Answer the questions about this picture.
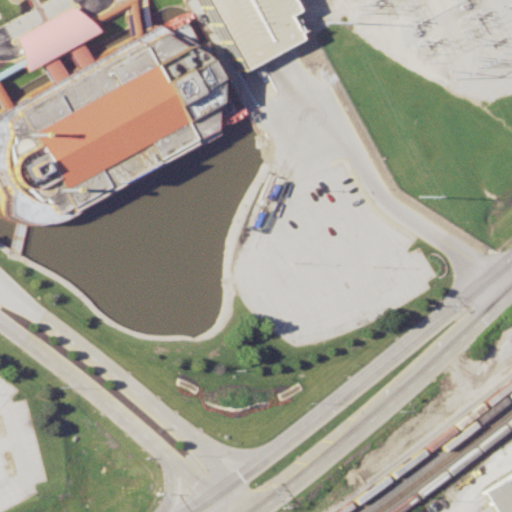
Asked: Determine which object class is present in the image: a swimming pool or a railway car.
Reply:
railway car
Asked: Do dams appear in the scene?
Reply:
No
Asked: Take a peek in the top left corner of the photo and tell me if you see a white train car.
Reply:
No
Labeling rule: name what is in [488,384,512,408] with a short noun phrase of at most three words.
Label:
rail car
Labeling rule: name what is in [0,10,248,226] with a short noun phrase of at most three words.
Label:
building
